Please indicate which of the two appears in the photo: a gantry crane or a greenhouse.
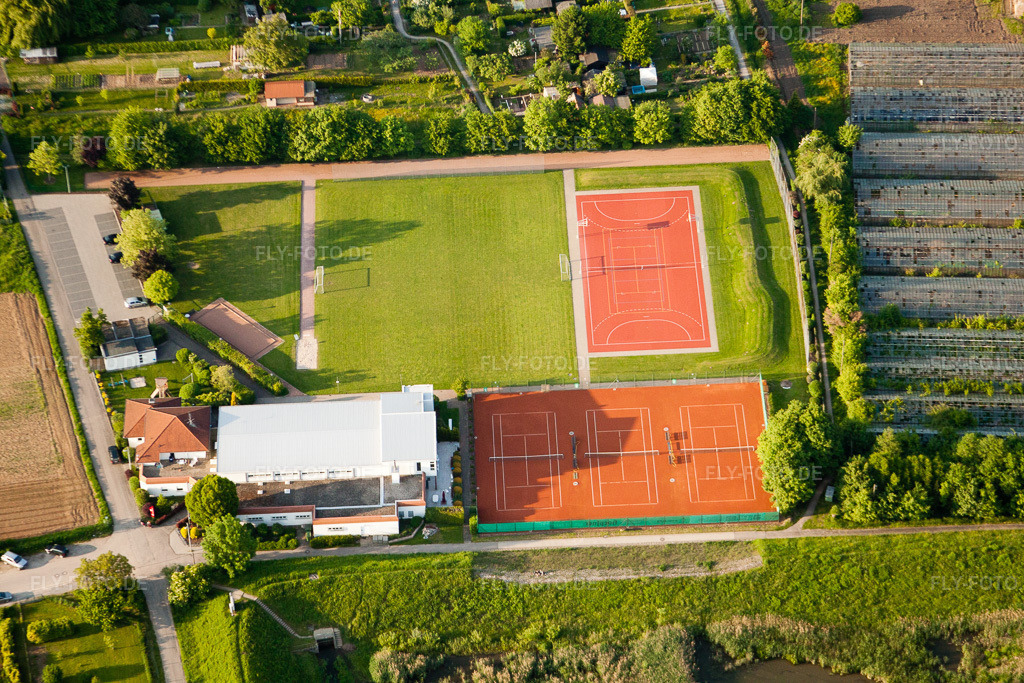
greenhouse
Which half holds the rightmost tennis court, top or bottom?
bottom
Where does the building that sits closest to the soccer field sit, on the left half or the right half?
left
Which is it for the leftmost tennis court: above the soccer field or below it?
below it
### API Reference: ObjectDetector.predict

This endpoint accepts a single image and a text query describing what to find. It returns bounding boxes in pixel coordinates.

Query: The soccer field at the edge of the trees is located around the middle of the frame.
[316,170,580,396]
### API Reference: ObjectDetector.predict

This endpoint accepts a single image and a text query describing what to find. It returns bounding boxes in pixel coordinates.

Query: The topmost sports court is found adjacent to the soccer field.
[576,190,711,353]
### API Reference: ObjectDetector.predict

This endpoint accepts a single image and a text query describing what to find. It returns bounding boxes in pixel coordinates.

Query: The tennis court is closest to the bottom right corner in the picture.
[675,399,760,507]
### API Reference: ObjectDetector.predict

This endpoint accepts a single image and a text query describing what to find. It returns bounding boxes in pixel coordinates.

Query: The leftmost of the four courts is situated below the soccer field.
[487,407,566,515]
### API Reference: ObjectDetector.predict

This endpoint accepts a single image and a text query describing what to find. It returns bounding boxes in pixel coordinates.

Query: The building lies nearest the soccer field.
[215,380,438,486]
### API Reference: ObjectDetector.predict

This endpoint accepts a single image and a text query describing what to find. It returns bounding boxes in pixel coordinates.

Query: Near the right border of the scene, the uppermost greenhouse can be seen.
[849,42,1024,87]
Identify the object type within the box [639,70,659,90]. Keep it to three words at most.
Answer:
building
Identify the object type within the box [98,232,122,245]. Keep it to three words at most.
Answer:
vehicle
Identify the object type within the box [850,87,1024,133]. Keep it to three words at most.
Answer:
greenhouse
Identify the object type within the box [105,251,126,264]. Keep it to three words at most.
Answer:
vehicle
